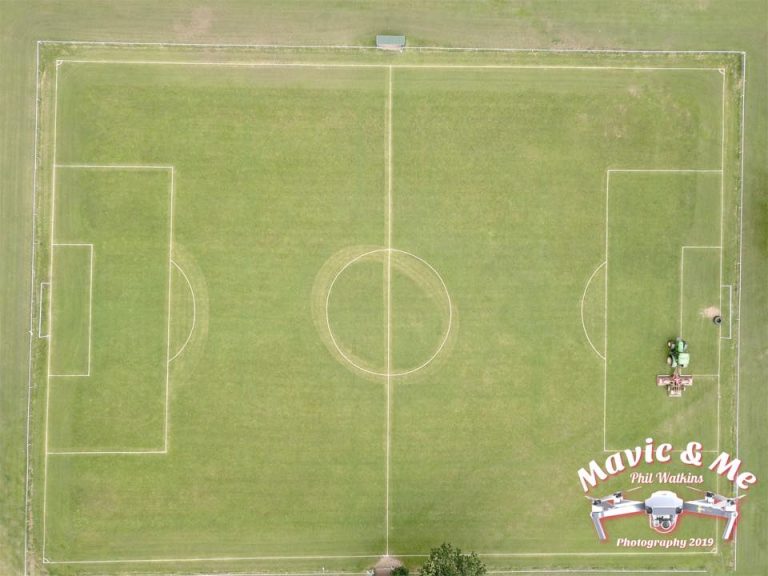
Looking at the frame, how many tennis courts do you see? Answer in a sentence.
Not a single tennis court can be seen.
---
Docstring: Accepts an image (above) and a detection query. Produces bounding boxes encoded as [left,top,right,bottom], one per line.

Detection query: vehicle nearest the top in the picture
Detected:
[667,335,689,367]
